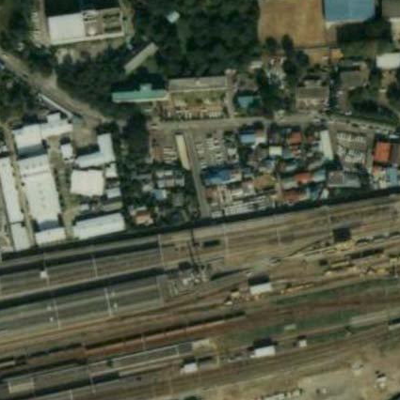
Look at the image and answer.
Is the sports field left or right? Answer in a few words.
right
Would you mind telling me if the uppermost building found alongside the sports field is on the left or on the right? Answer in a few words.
right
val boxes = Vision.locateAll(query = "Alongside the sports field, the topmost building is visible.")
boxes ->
[325,0,375,21]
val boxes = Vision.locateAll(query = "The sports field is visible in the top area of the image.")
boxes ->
[259,0,327,48]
